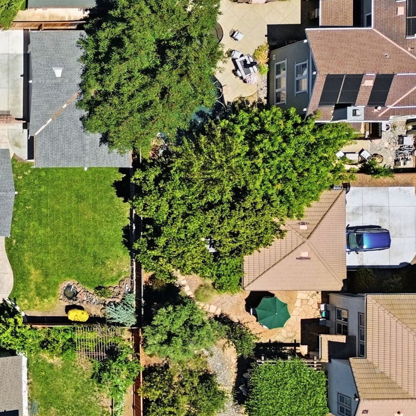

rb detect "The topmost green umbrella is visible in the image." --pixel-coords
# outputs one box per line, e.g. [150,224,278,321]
[261,295,295,331]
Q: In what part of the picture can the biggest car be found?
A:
right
